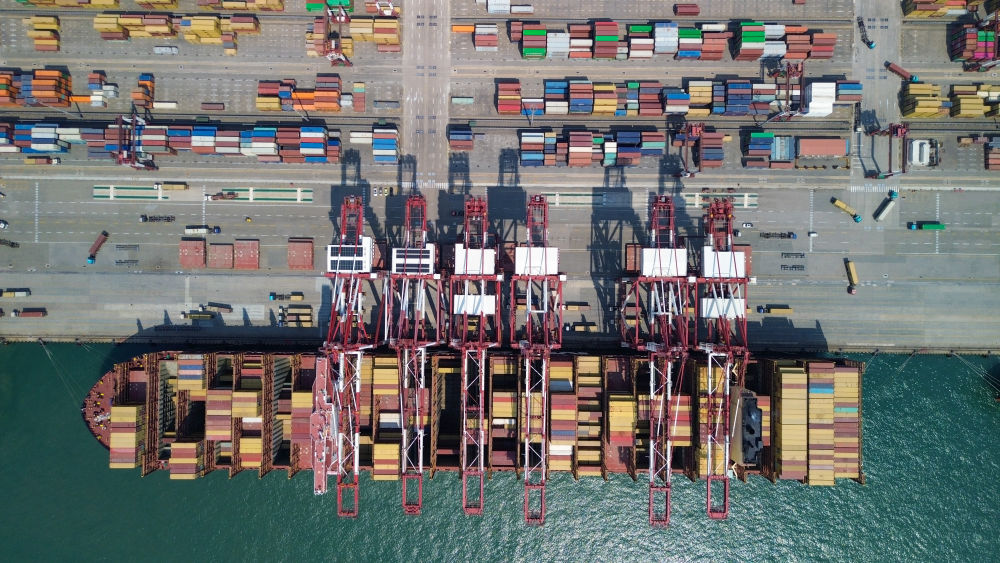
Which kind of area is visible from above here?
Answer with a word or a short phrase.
port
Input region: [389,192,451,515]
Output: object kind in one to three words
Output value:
container crane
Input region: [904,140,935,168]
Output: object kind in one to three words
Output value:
shed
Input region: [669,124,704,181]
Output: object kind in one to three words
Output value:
container crane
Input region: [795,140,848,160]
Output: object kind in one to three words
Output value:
building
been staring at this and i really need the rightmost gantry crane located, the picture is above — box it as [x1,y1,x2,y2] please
[958,8,1000,75]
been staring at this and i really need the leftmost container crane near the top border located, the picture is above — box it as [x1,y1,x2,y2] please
[323,3,355,70]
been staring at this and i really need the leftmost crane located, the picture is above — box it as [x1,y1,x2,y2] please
[117,115,163,175]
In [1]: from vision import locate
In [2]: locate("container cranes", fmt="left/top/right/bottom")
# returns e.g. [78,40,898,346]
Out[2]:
[448,193,509,516]
[389,192,451,515]
[324,191,397,515]
[323,3,355,70]
[764,62,805,125]
[613,195,697,528]
[669,124,704,181]
[958,8,1000,75]
[673,196,756,518]
[859,124,906,182]
[505,194,571,526]
[117,115,163,175]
